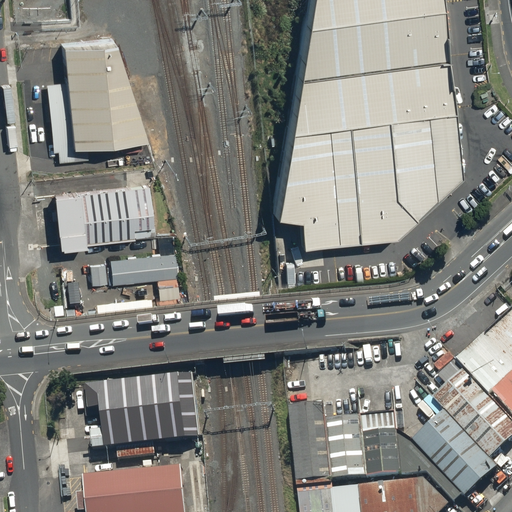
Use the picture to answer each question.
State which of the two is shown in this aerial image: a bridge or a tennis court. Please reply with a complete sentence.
There is a bridge in the scene.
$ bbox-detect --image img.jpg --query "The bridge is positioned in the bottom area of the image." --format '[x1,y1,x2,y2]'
[184,288,292,362]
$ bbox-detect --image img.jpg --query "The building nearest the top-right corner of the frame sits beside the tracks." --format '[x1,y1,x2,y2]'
[273,0,464,252]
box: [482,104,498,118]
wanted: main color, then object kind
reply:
white vehicle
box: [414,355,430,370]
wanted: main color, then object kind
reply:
gray vehicle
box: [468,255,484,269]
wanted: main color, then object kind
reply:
white car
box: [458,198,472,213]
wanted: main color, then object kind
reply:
white vehicle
